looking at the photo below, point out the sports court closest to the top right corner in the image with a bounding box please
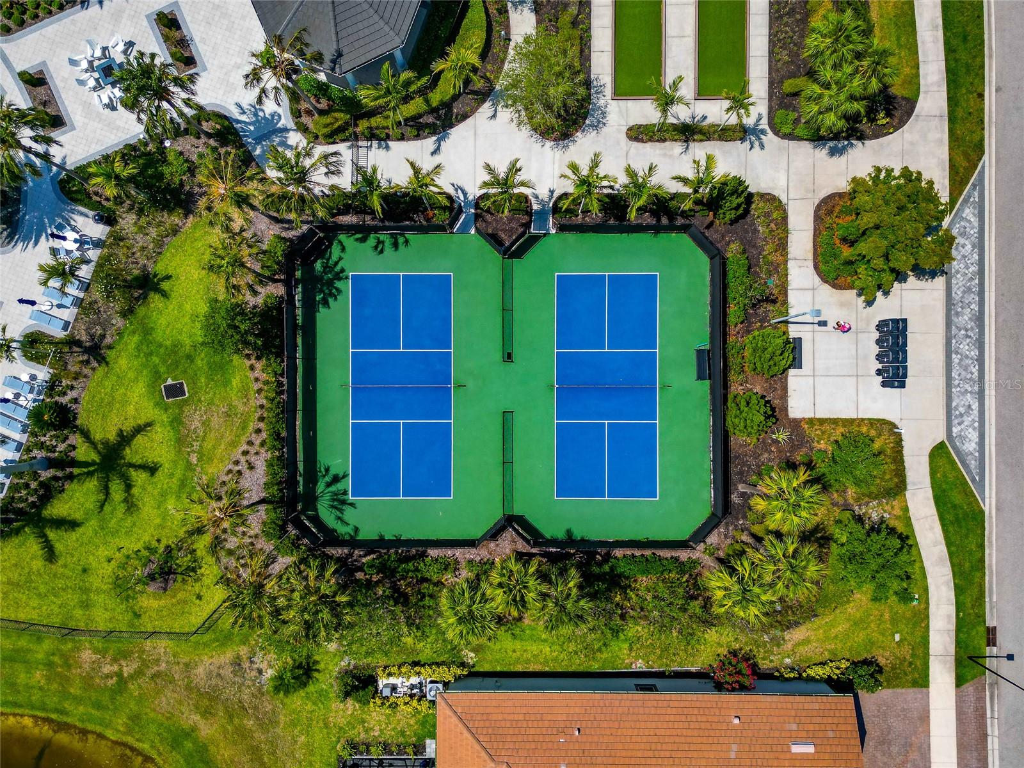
[694,0,749,100]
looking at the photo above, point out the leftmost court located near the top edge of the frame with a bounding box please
[612,0,665,100]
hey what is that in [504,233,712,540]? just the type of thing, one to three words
sports court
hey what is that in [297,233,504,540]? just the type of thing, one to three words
sports court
